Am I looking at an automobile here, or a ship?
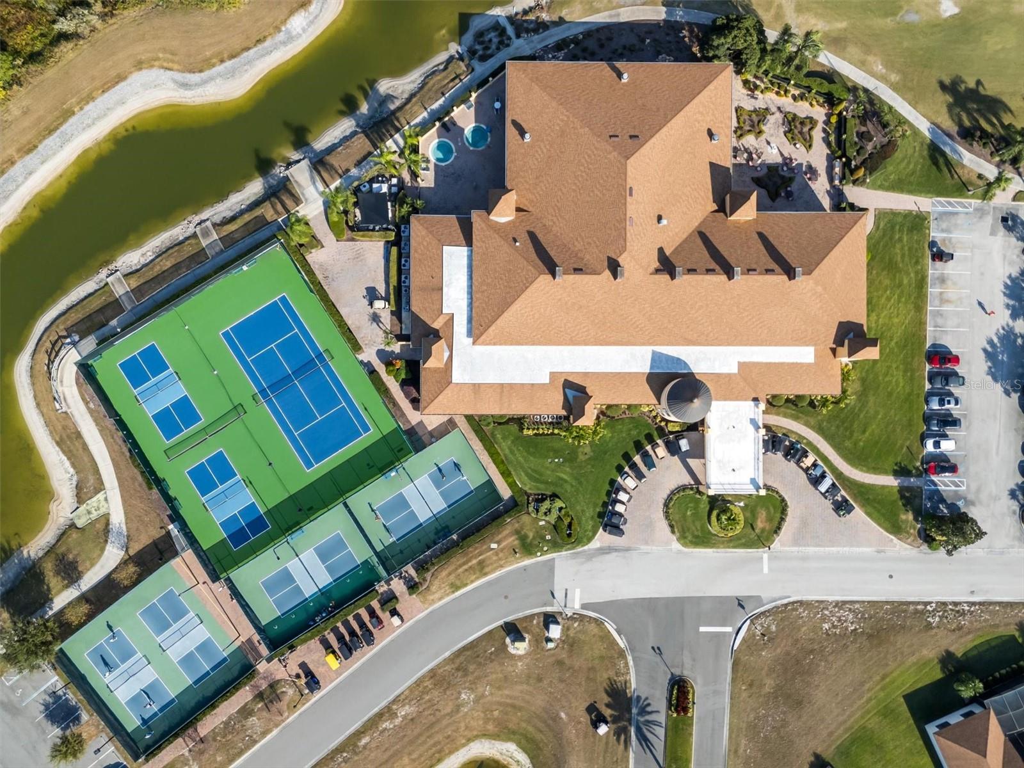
automobile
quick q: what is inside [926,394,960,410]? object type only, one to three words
car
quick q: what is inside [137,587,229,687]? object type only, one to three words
sports court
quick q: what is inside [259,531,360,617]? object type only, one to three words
sports court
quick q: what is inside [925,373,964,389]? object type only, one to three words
vehicle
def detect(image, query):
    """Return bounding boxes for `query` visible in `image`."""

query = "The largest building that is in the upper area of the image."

[410,61,880,495]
